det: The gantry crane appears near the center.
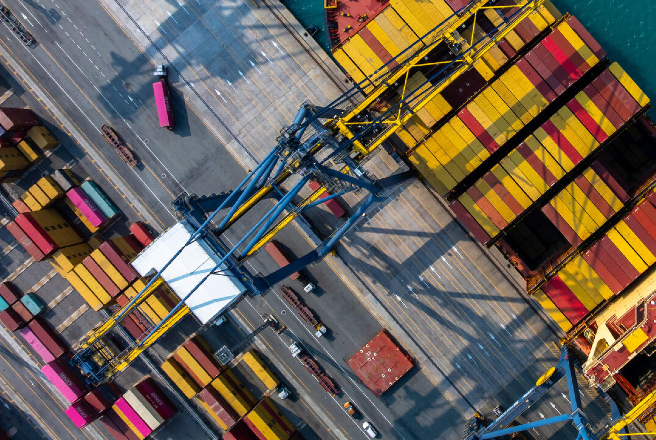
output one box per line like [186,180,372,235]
[72,0,551,389]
